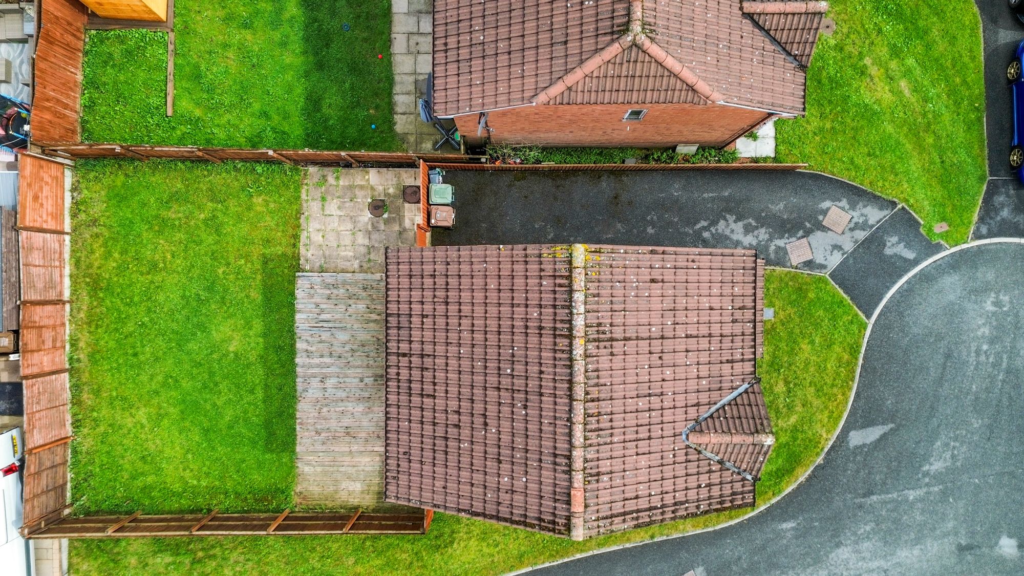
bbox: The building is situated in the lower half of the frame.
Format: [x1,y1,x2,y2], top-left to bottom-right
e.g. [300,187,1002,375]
[382,240,777,538]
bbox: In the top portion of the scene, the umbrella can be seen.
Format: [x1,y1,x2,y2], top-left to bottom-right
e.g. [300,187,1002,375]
[420,102,460,149]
